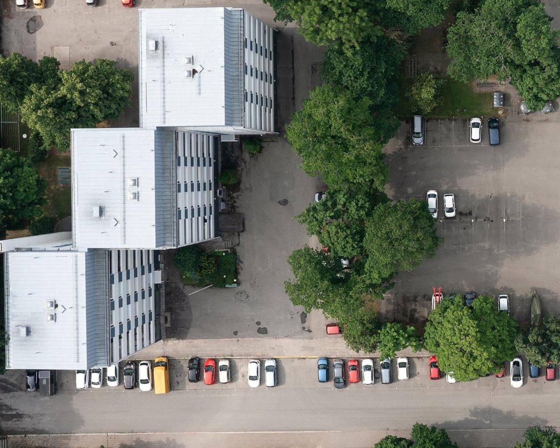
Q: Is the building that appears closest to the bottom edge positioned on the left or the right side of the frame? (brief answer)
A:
left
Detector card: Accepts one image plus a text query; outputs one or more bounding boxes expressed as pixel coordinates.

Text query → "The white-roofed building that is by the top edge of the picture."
[137,6,278,134]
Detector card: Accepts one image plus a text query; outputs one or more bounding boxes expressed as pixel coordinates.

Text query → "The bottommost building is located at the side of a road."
[0,246,164,371]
